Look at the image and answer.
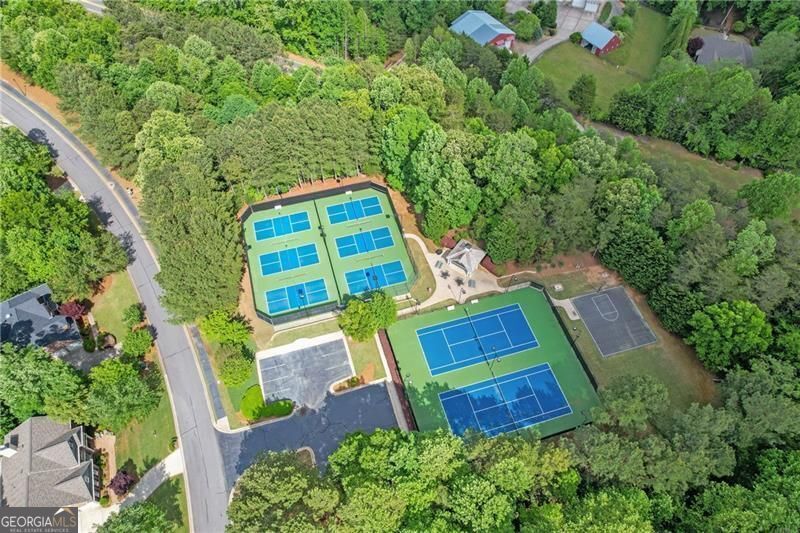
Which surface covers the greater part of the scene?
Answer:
trees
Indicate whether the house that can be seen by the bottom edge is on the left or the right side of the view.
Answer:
left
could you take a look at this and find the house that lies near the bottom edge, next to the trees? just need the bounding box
[0,413,102,533]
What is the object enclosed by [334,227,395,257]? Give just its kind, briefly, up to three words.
sports court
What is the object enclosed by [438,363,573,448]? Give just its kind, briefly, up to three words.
tennis court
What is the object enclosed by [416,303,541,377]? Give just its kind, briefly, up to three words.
tennis court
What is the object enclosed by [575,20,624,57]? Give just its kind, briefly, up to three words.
barn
